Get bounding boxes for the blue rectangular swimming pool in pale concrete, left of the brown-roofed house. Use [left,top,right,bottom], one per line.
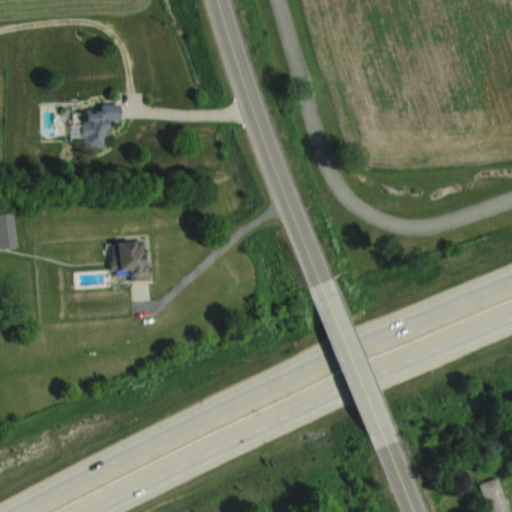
[74,269,112,290]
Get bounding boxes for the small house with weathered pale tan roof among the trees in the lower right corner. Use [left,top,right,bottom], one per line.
[479,483,508,512]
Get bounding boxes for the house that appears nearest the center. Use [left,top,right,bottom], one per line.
[104,239,152,282]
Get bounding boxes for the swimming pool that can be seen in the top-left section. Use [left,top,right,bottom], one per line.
[40,104,66,138]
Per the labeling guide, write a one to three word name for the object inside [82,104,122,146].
house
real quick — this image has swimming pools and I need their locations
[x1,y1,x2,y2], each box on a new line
[74,269,112,290]
[40,104,66,138]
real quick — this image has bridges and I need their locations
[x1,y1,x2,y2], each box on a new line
[309,276,400,452]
